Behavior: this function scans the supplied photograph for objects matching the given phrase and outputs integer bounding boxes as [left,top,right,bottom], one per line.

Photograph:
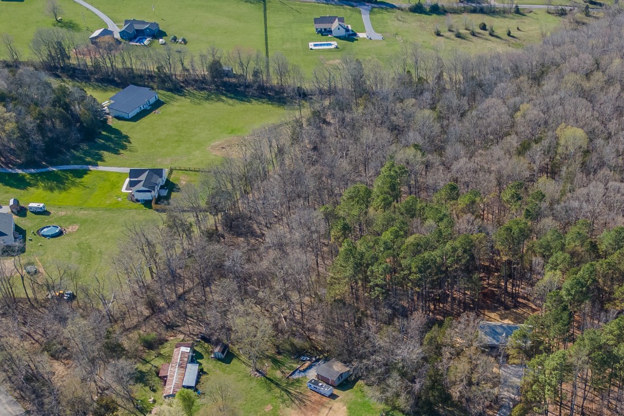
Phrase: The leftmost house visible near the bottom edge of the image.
[155,343,199,399]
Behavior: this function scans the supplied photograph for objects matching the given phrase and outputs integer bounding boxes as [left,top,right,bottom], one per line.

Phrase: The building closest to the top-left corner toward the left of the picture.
[89,26,122,45]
